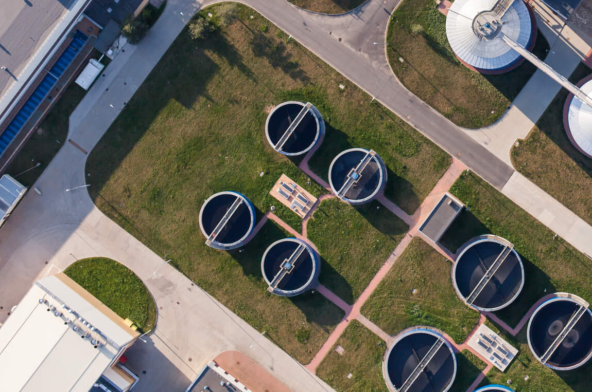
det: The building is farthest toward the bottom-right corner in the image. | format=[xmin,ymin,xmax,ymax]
[418,192,465,244]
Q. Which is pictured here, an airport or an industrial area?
industrial area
